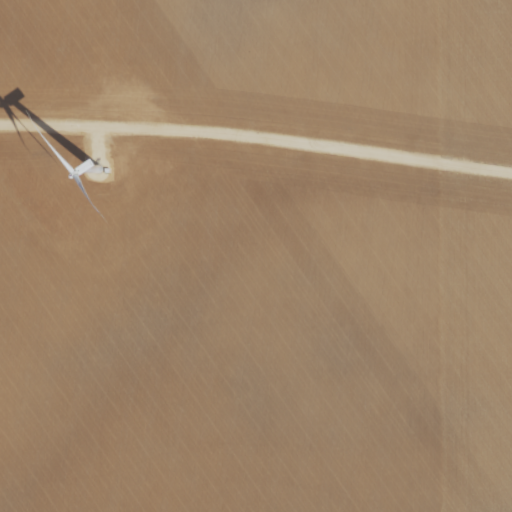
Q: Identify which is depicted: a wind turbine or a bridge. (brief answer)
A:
wind turbine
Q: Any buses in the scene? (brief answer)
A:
No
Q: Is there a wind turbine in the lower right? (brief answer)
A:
No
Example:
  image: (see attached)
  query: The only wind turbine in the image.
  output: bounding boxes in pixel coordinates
[33,118,106,229]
